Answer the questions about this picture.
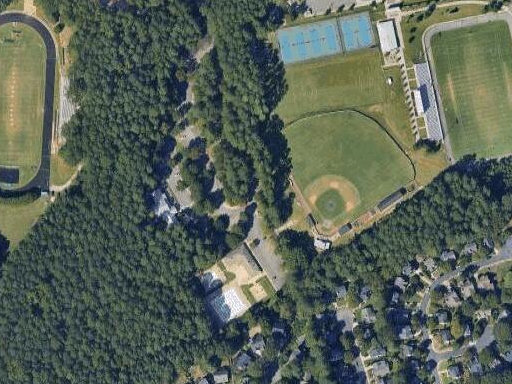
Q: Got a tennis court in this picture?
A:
Yes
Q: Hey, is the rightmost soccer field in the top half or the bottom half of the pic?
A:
top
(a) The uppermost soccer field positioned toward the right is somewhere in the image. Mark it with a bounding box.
[423,10,512,167]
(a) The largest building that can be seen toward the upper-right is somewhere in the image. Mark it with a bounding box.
[377,20,399,53]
